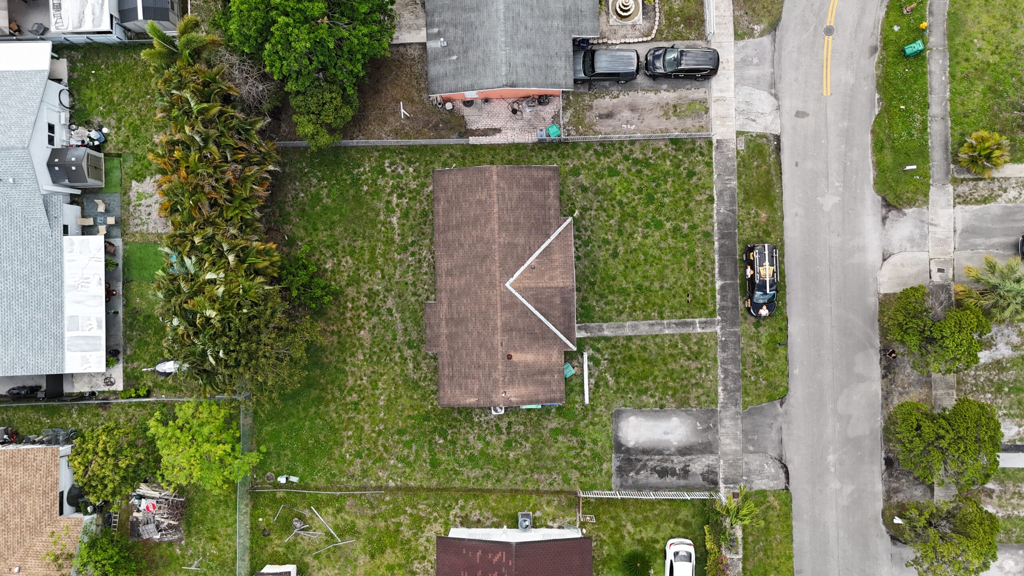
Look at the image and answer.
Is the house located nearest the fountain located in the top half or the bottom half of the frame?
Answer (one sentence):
The house located nearest the fountain sits in the top half of the picture.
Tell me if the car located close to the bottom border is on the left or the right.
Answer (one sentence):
The car located close to the bottom border appears in the right half of the scene.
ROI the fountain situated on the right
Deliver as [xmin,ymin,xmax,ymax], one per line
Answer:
[610,0,643,28]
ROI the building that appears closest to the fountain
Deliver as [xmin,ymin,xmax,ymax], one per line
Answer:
[426,0,600,101]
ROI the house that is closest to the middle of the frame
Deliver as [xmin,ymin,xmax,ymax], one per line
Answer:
[424,164,577,407]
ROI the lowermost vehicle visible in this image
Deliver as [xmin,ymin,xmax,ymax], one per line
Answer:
[667,541,697,576]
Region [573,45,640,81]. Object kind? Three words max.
car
